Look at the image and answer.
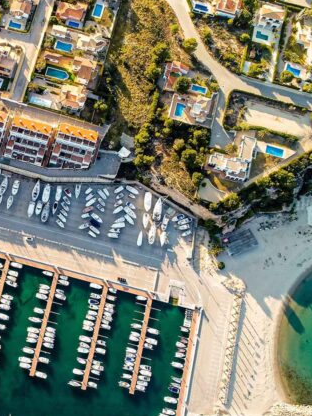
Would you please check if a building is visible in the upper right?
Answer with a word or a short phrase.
Yes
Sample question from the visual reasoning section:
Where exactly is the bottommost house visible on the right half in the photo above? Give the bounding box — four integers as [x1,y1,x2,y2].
[208,134,286,183]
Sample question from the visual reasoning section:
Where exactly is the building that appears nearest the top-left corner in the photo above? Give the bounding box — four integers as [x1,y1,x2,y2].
[1,0,33,34]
